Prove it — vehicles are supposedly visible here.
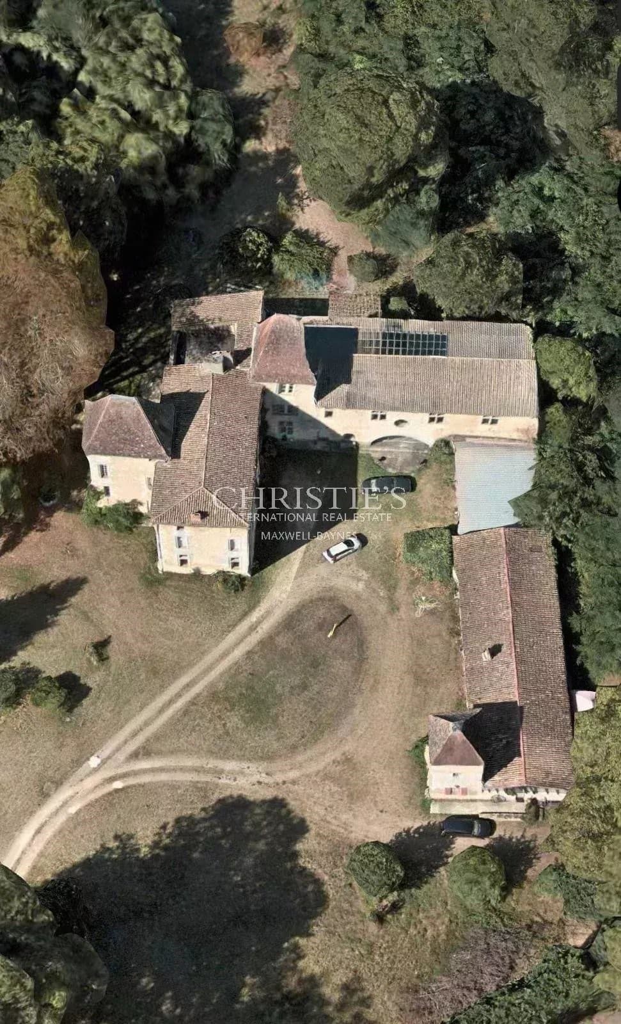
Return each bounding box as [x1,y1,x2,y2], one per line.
[439,813,496,842]
[361,472,412,497]
[319,533,366,567]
